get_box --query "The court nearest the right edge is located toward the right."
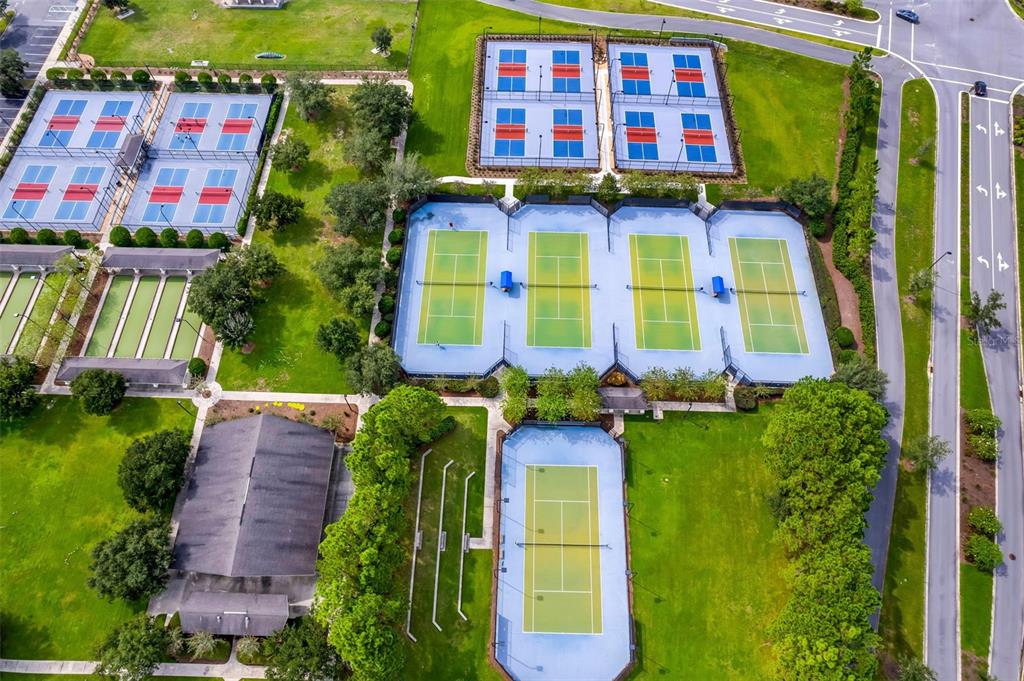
[706,210,835,382]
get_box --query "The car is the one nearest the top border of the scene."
[897,9,921,22]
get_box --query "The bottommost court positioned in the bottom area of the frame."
[496,426,630,681]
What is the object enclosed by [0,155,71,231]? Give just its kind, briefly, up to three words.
sports court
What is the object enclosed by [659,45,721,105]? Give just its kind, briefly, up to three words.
sports court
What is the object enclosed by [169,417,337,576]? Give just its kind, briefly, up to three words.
building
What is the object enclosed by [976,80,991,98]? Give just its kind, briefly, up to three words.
car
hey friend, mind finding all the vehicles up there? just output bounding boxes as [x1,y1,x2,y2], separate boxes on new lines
[976,80,991,98]
[897,9,921,22]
